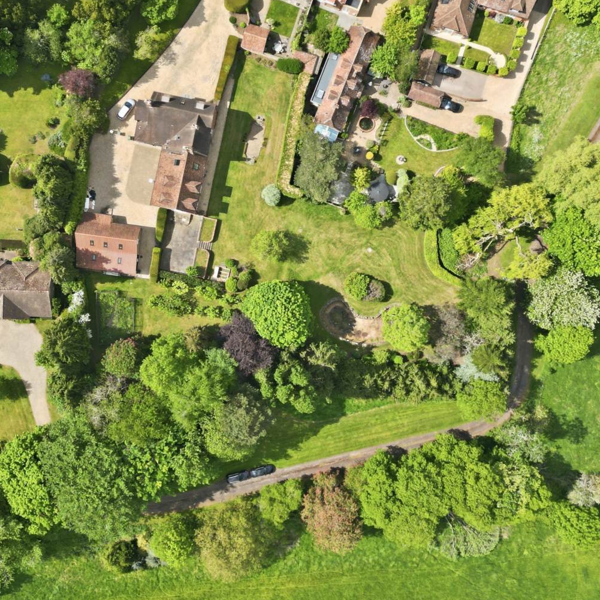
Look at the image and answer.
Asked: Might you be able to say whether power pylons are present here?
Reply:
No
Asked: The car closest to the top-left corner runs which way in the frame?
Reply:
on a diagonal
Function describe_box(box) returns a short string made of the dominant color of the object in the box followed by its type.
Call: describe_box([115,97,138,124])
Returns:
white car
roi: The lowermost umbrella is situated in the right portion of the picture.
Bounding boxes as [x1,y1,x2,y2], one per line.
[369,182,389,202]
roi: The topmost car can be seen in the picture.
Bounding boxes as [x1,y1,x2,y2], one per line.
[435,64,462,81]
